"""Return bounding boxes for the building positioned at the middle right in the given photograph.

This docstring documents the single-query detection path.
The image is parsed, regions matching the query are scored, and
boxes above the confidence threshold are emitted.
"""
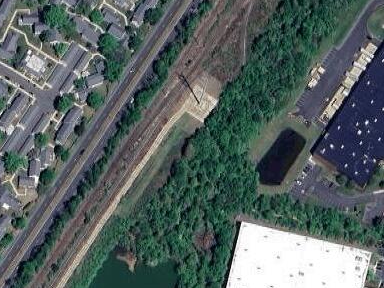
[313,43,384,192]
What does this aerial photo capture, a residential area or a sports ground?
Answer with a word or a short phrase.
residential area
